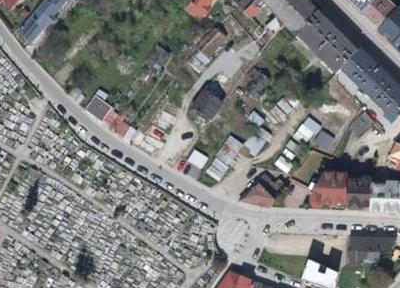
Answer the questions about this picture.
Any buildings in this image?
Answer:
Yes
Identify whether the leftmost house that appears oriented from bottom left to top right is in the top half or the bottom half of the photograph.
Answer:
top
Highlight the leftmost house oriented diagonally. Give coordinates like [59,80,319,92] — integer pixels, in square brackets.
[18,0,69,44]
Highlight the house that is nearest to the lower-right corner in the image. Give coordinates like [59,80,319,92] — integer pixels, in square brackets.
[347,234,397,265]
